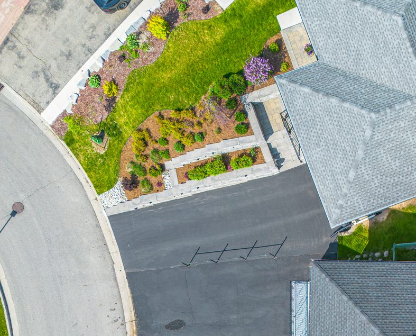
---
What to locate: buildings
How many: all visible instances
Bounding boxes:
[307,258,416,336]
[274,0,416,231]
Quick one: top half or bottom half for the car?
top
